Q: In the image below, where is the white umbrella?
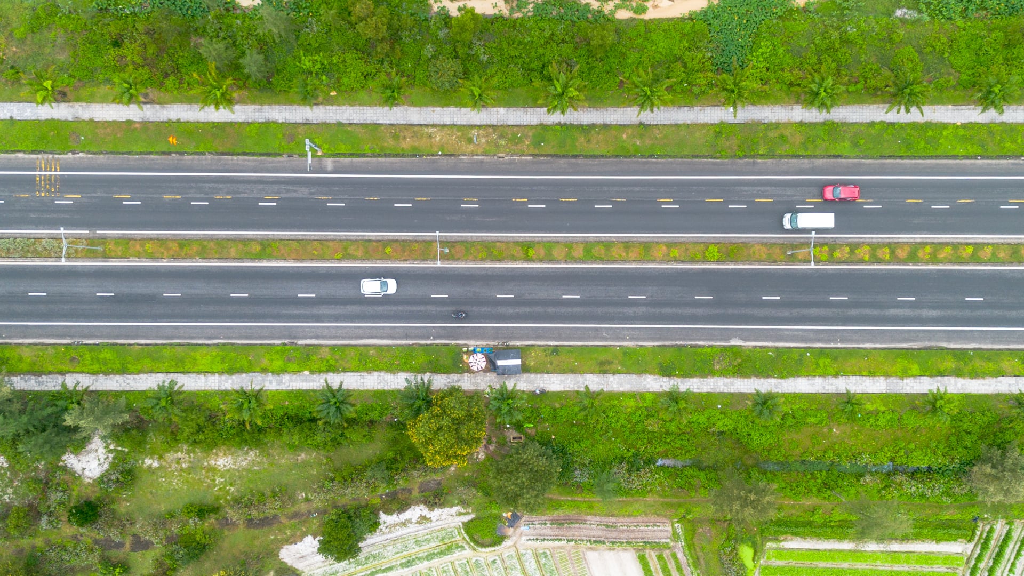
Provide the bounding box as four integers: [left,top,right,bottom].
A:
[469,353,486,371]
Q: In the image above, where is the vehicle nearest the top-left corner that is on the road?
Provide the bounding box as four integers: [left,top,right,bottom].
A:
[361,278,397,295]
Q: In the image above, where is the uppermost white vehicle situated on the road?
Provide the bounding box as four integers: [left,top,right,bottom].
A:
[781,211,836,231]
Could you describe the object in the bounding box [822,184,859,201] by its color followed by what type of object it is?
red car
